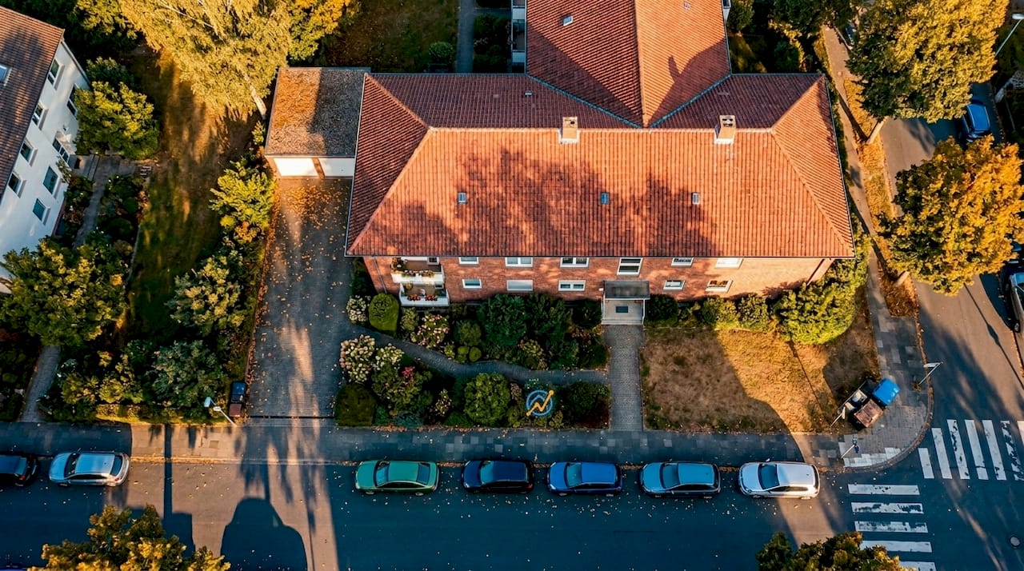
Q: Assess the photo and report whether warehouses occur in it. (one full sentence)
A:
No, the photo shows no warehouse.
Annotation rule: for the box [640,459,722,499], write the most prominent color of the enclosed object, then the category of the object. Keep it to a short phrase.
blue car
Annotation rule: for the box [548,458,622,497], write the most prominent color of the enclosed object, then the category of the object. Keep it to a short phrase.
blue car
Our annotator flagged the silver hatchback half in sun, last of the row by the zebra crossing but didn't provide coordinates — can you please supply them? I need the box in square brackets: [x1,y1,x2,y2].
[737,459,821,499]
